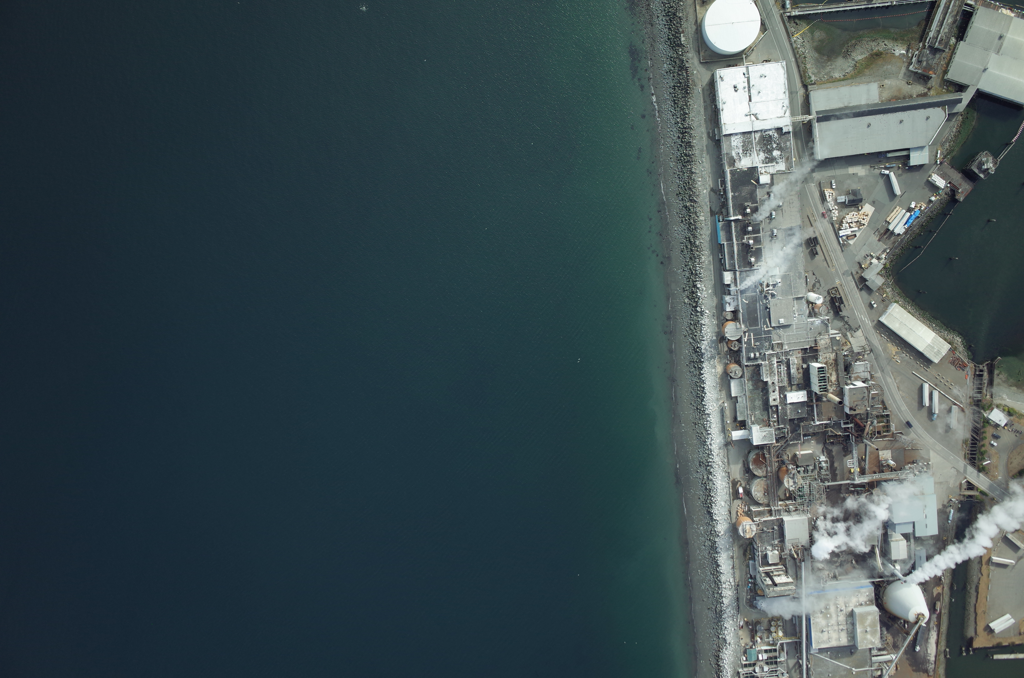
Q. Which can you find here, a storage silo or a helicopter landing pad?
storage silo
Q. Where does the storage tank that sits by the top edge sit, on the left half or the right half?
right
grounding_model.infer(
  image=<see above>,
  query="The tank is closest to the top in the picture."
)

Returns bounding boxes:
[701,0,761,56]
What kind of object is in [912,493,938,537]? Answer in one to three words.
building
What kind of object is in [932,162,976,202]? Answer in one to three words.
pier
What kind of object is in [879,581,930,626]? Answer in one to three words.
silo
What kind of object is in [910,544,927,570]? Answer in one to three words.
building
